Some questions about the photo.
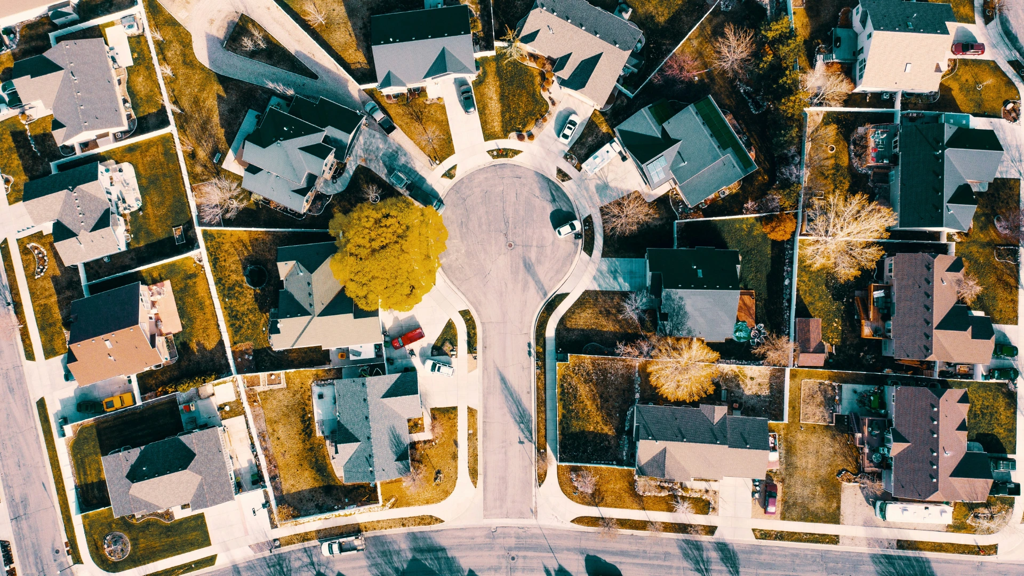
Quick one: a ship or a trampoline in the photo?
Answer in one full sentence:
The one in the frame is a trampoline.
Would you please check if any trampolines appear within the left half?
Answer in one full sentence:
Yes, looking within the left half, one can make out a trampoline.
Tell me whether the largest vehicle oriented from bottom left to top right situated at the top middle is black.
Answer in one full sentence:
No, from above the largest vehicle oriented from bottom left to top right situated at the top middle looks white.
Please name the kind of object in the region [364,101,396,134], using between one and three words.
truck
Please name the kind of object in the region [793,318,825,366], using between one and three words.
shed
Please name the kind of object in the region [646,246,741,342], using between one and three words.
house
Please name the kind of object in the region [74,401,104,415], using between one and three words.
car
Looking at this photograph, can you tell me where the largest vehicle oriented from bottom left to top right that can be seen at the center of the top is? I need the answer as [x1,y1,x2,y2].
[586,139,625,172]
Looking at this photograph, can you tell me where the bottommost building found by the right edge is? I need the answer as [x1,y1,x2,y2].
[885,384,994,502]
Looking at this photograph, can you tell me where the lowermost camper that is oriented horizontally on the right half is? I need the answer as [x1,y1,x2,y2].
[877,504,962,526]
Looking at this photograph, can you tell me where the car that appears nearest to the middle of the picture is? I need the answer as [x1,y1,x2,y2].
[555,220,582,239]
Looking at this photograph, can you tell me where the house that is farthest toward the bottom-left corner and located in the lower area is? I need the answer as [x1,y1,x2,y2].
[101,426,238,518]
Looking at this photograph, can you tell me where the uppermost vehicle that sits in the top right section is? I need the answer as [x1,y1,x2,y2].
[954,40,987,55]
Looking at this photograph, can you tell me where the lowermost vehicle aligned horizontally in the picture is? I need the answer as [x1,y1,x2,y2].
[321,538,364,557]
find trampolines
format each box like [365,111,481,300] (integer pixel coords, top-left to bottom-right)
[239,263,268,289]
